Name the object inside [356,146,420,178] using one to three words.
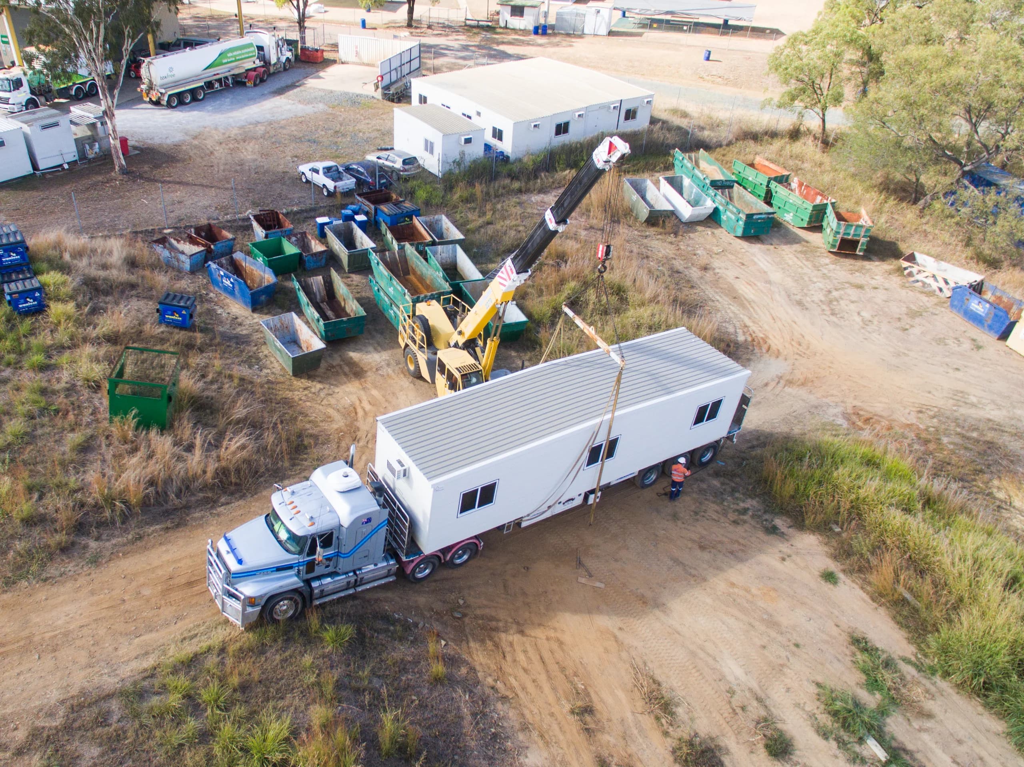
car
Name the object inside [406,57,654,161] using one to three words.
building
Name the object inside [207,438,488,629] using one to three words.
truck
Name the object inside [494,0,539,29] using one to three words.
shed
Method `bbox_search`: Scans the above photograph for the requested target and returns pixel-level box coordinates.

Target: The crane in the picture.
[399,143,640,399]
